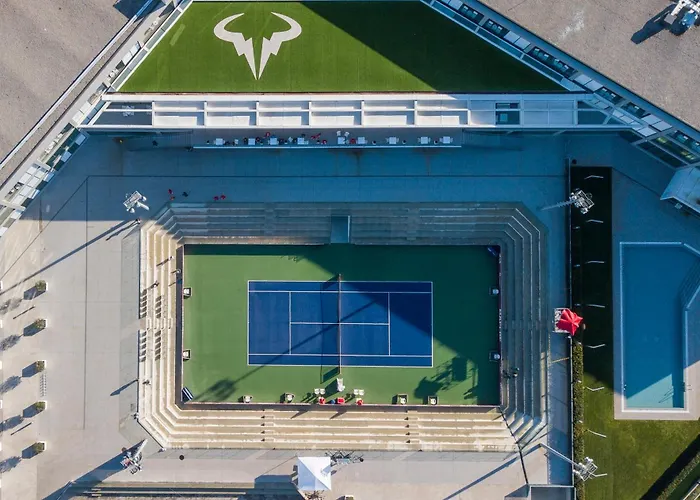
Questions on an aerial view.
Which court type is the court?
tennis court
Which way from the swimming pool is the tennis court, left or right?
to the left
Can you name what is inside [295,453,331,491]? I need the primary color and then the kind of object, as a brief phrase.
white tent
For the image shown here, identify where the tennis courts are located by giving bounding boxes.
[183,246,500,405]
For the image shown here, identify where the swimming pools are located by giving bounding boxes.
[616,241,700,411]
